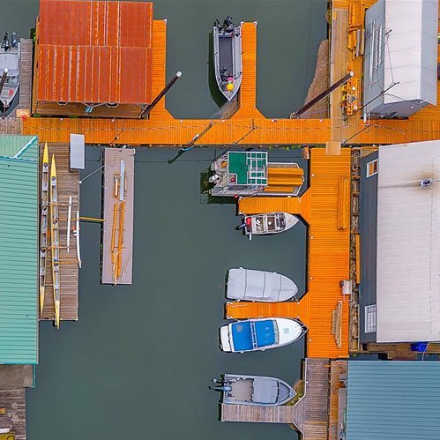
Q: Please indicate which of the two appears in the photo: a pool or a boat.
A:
boat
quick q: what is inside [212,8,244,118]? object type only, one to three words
boat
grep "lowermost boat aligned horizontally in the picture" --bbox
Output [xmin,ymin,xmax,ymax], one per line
[206,373,296,407]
